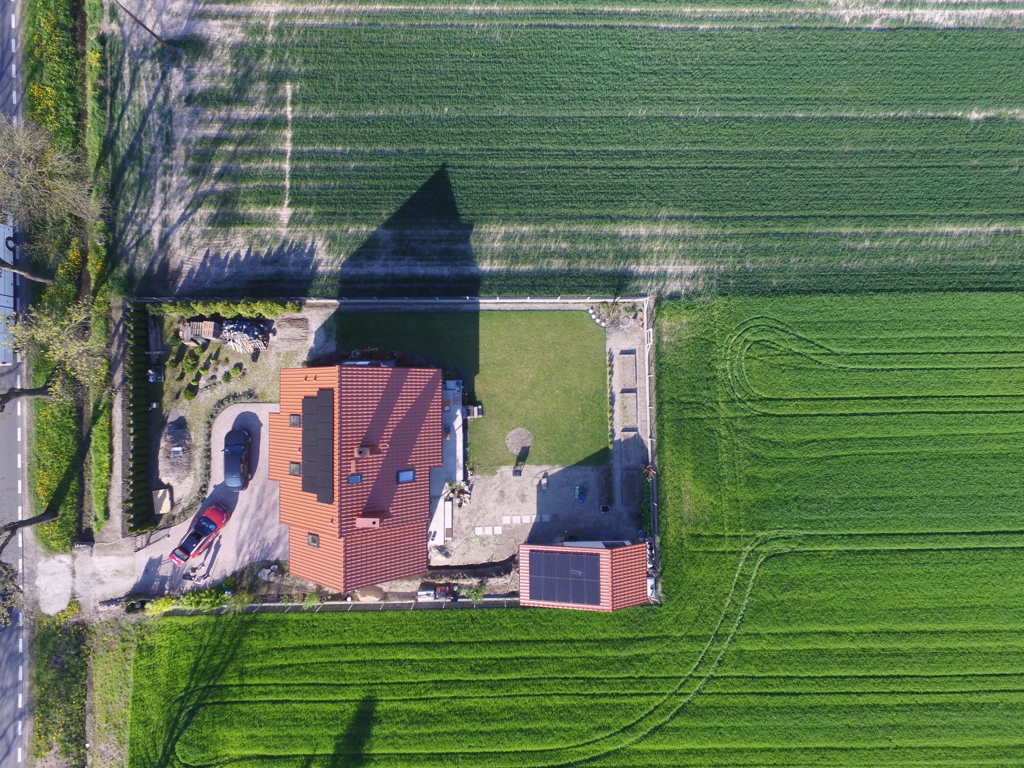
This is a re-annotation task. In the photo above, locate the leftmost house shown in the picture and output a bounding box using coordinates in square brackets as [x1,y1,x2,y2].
[267,365,445,595]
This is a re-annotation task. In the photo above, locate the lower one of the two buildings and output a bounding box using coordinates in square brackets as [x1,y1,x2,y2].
[518,538,649,613]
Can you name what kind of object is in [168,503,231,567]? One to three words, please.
car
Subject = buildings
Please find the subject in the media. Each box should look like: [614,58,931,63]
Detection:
[267,365,445,595]
[518,538,649,613]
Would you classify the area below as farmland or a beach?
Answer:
farmland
